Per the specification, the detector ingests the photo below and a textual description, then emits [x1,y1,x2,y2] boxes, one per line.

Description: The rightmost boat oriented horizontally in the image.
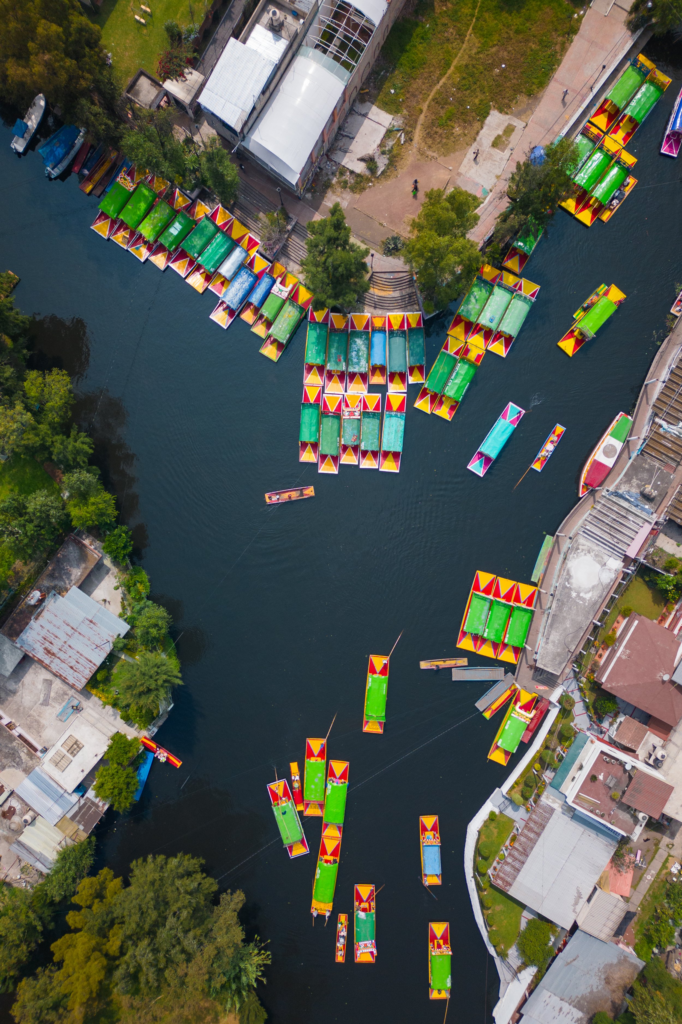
[452,667,504,681]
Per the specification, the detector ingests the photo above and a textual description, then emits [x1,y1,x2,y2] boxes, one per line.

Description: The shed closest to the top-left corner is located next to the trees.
[124,69,169,115]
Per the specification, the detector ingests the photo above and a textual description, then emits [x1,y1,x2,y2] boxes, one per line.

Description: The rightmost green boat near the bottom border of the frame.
[429,921,452,999]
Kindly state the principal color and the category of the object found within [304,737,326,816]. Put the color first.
green boat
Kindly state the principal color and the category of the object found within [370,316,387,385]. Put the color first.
blue boat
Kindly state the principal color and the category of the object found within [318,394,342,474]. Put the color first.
green boat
